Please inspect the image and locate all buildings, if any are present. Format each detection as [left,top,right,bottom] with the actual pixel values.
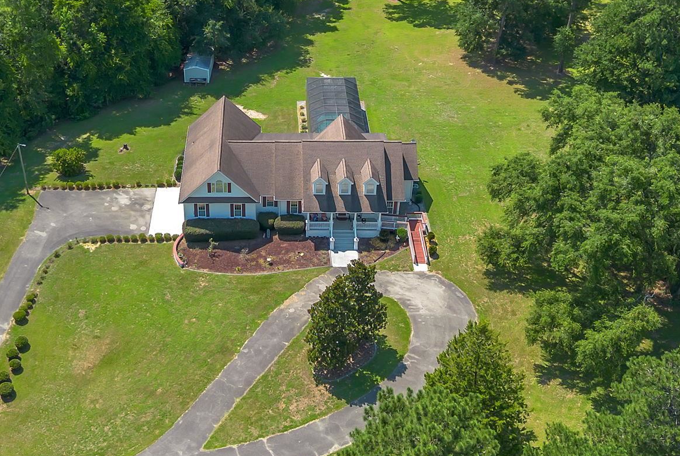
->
[178,96,419,250]
[182,49,214,83]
